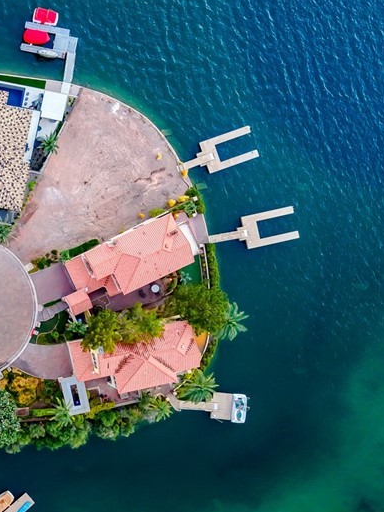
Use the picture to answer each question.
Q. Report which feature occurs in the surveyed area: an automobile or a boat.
boat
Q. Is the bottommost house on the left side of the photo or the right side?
left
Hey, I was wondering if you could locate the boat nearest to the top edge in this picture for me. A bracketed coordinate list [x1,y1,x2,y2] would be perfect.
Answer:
[31,3,59,26]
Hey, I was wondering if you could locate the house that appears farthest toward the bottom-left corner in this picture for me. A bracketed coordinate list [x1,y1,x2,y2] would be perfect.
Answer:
[65,321,202,393]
